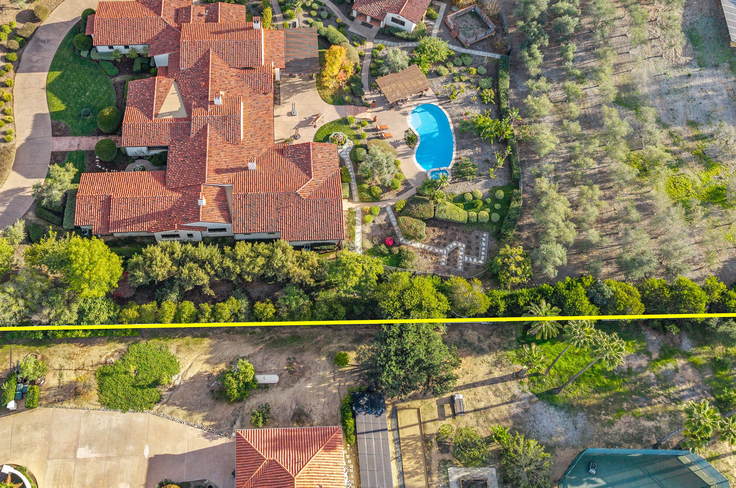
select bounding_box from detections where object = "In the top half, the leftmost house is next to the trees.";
[75,0,346,250]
